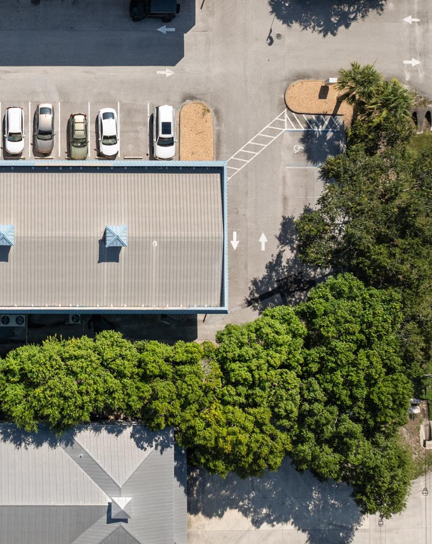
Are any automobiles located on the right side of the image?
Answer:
No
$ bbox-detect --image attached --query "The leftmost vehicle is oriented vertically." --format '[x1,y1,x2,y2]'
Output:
[2,104,27,155]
